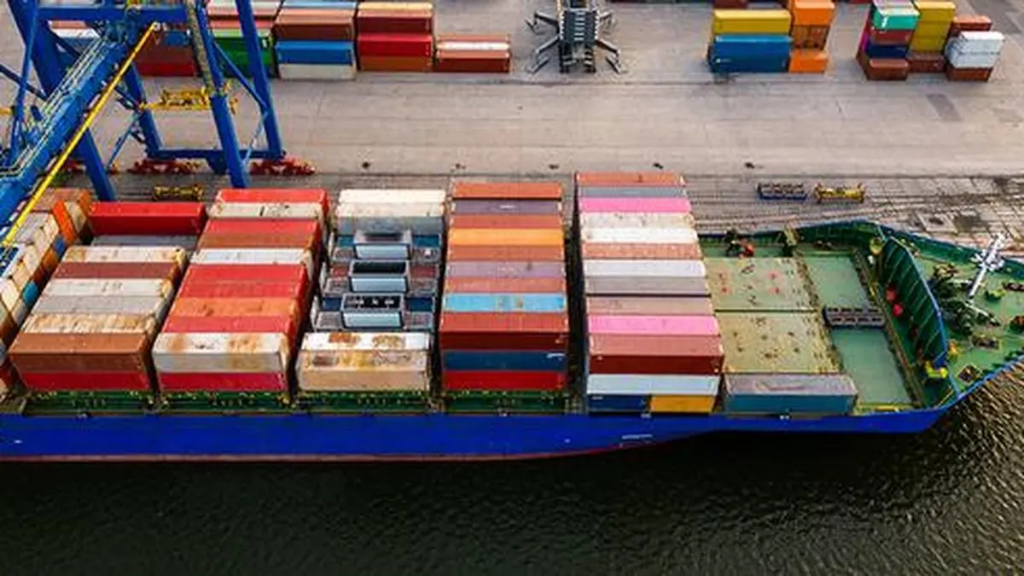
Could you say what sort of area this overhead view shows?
port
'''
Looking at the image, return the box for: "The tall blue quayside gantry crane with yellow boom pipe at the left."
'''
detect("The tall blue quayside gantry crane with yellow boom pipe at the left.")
[0,0,317,341]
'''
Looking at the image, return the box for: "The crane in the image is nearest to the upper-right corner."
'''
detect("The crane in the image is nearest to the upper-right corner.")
[525,0,631,71]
